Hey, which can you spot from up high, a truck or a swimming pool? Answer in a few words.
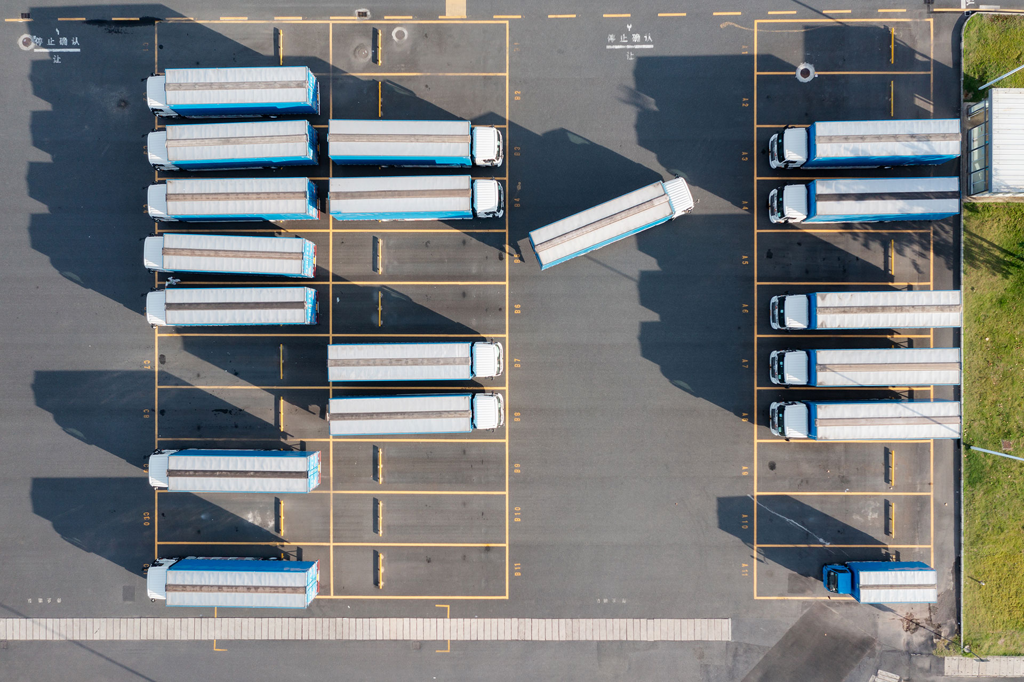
truck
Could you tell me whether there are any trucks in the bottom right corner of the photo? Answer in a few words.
Yes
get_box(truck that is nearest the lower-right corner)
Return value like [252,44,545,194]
[822,561,937,603]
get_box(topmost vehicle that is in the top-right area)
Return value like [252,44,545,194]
[768,118,961,168]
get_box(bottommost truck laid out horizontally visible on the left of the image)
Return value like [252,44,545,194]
[141,557,320,608]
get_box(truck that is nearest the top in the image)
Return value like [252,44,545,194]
[140,66,321,119]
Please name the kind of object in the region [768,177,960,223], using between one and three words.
truck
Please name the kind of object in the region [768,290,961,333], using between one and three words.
truck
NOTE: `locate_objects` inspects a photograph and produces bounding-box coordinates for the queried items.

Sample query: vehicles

[327,340,508,381]
[141,120,321,172]
[141,177,321,224]
[526,172,702,270]
[328,175,508,221]
[140,286,320,328]
[768,398,961,440]
[768,290,961,333]
[768,177,960,223]
[822,561,937,603]
[329,390,509,435]
[138,232,317,278]
[768,118,961,168]
[140,66,321,119]
[142,448,322,493]
[768,346,961,388]
[328,119,507,167]
[141,557,320,608]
